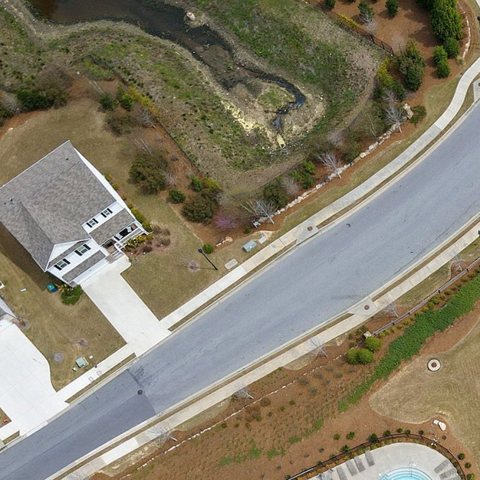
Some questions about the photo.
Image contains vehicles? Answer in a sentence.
No, the scene contains no vehicle.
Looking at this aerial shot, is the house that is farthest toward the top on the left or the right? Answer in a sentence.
You can find the house that is farthest toward the top on the left side of the picture.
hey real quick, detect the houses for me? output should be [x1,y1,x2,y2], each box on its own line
[0,140,150,290]
[0,297,19,332]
